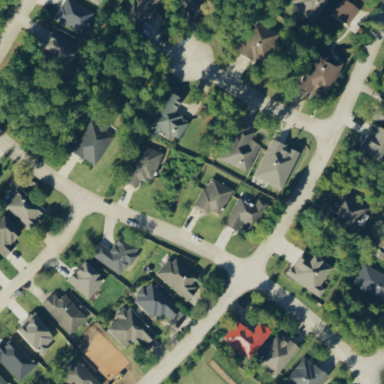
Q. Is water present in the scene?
No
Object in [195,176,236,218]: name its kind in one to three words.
house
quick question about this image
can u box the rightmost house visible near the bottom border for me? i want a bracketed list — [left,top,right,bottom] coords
[286,357,326,384]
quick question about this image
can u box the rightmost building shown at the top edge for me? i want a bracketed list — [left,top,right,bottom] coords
[334,0,362,28]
